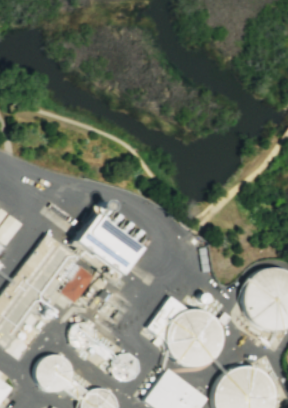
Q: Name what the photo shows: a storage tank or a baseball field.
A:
storage tank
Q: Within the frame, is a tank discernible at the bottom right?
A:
Yes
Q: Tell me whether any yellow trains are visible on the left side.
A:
No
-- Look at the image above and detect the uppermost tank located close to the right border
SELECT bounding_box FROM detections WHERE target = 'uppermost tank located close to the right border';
[240,266,288,332]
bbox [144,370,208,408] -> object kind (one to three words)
building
